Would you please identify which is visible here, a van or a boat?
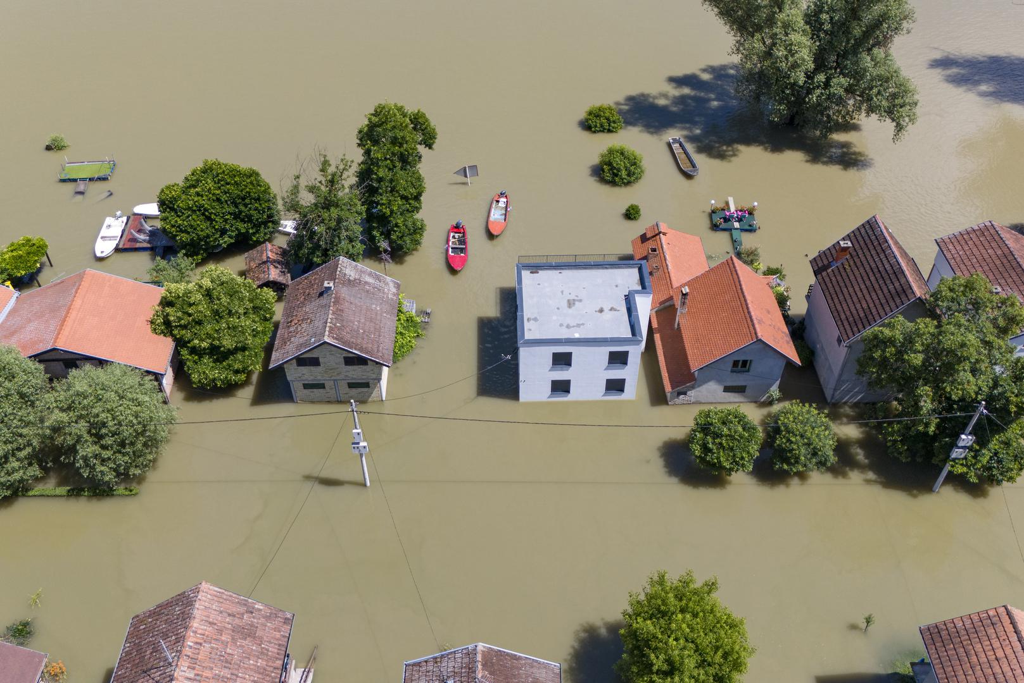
boat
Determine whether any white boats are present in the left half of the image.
Yes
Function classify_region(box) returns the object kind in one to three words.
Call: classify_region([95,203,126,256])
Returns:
boat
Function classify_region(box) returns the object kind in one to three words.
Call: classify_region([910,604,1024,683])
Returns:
house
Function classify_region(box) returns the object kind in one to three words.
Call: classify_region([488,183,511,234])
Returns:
boat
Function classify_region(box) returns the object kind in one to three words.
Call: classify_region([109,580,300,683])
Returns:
house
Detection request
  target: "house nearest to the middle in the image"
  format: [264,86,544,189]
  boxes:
[512,250,653,402]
